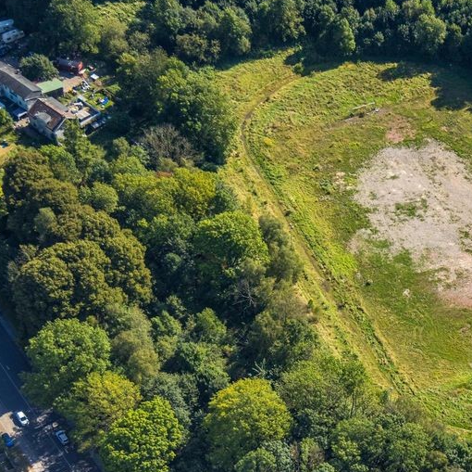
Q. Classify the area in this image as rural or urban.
rural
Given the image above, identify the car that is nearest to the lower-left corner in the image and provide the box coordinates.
[1,431,15,448]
